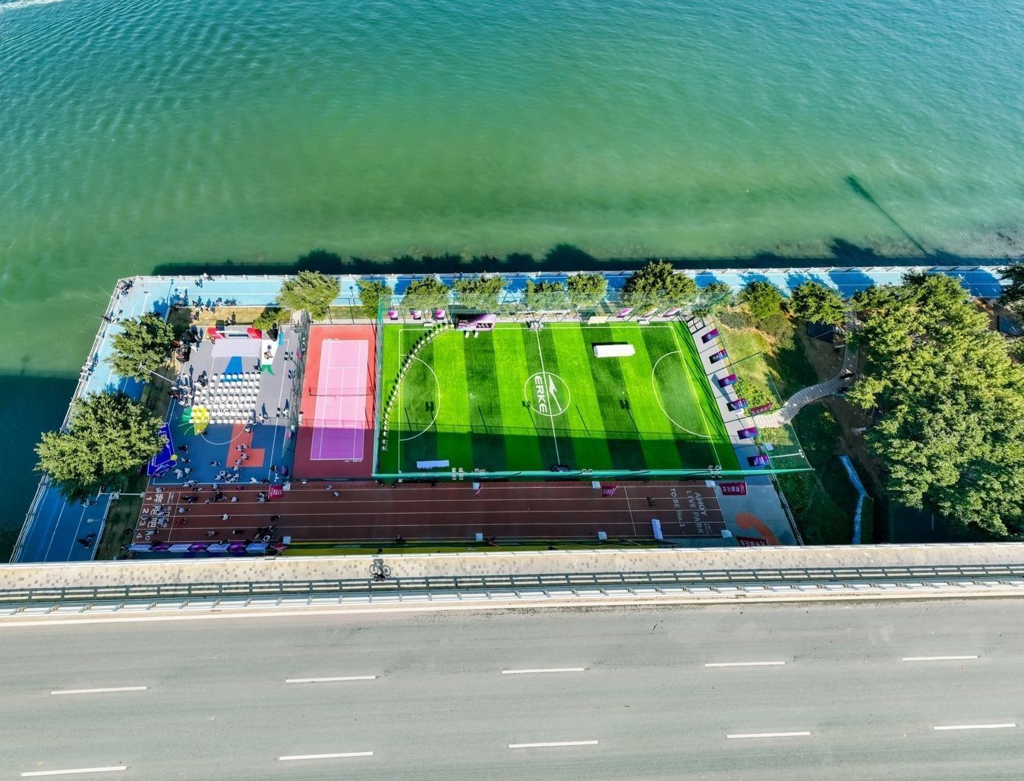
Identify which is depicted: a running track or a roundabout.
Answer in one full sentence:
I can see a running track in this picture.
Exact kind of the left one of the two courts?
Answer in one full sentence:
Looking closely, the left one of the two courts is a basketball court.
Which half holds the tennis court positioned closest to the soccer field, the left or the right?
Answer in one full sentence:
You can find the tennis court positioned closest to the soccer field on the left side of the picture.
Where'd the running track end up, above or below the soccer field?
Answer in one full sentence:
The position of the running track is below the soccer field.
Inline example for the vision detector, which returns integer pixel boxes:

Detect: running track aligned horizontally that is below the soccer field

[131,486,728,551]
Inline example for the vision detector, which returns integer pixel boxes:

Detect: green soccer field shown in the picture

[376,329,745,490]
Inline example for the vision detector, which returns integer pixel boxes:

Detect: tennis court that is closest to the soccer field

[293,333,376,486]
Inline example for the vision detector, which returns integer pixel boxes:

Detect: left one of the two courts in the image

[148,333,309,494]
